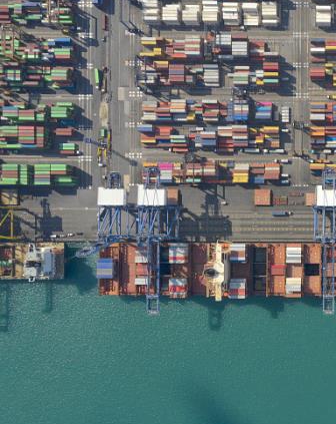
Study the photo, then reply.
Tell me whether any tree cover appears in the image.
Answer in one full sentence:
No, the scene doesn't show any tree cover.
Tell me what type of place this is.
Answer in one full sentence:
The area seen from above is a port.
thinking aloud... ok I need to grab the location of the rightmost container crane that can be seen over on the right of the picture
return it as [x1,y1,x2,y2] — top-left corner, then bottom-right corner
[313,169,336,313]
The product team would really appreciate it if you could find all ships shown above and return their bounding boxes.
[98,237,336,302]
[0,242,70,282]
